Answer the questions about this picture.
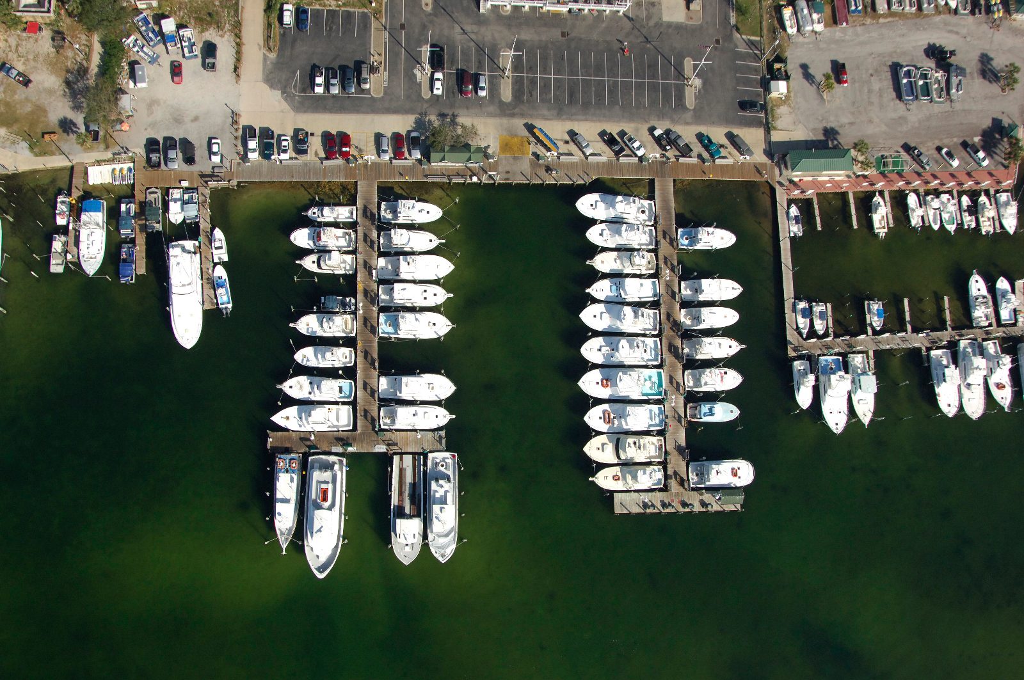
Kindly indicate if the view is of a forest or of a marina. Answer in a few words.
marina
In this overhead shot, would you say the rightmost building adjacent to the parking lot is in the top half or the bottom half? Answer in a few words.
top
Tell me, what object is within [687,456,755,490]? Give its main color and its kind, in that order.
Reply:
white boat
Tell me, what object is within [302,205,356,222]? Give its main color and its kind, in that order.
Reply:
white boat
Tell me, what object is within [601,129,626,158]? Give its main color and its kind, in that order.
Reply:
black truck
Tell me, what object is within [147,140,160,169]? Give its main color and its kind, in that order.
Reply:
black vehicle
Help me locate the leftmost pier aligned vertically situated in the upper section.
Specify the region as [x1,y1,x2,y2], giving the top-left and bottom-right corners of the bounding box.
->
[67,162,85,261]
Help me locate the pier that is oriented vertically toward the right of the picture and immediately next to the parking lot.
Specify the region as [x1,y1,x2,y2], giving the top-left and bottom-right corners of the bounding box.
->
[614,179,740,514]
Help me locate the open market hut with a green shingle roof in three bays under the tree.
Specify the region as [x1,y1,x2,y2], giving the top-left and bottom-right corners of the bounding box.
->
[431,142,484,167]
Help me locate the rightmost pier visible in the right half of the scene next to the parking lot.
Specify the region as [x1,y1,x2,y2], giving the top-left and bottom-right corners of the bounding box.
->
[775,186,1024,356]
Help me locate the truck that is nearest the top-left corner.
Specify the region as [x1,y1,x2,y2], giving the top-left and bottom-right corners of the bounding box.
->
[0,62,33,88]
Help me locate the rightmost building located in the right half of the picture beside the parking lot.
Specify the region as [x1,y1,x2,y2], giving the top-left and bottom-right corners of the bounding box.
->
[789,149,854,181]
